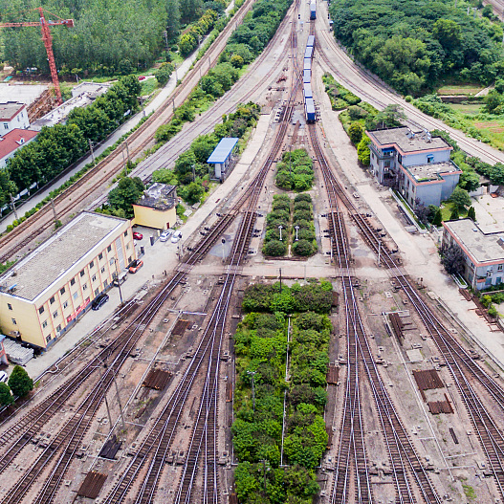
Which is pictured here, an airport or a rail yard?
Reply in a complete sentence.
The area seen from above is a rail yard.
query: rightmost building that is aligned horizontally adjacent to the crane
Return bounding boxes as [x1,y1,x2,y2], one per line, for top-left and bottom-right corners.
[73,82,113,100]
